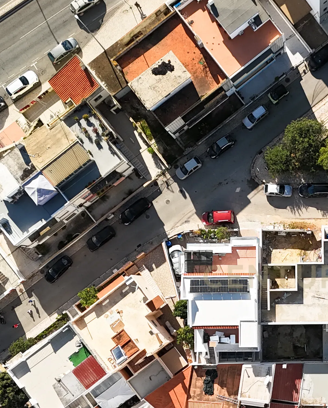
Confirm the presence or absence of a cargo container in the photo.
No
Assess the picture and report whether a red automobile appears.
Yes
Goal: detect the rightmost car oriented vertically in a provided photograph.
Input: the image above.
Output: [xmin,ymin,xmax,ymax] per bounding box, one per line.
[165,246,181,281]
